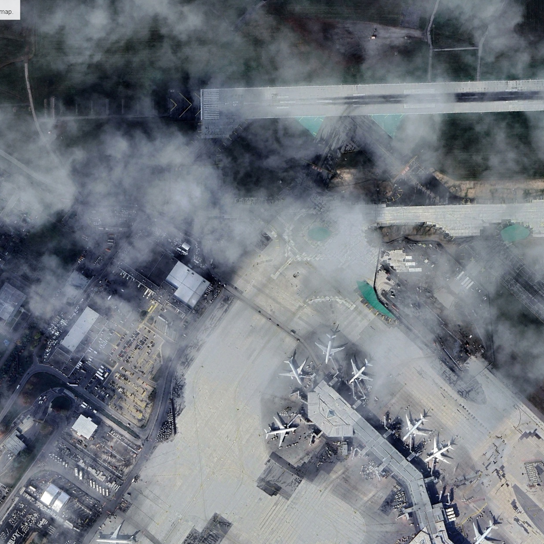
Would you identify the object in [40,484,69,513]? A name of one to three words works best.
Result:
building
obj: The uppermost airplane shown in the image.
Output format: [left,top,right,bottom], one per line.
[314,333,345,364]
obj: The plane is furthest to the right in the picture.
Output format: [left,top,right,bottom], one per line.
[472,520,498,544]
